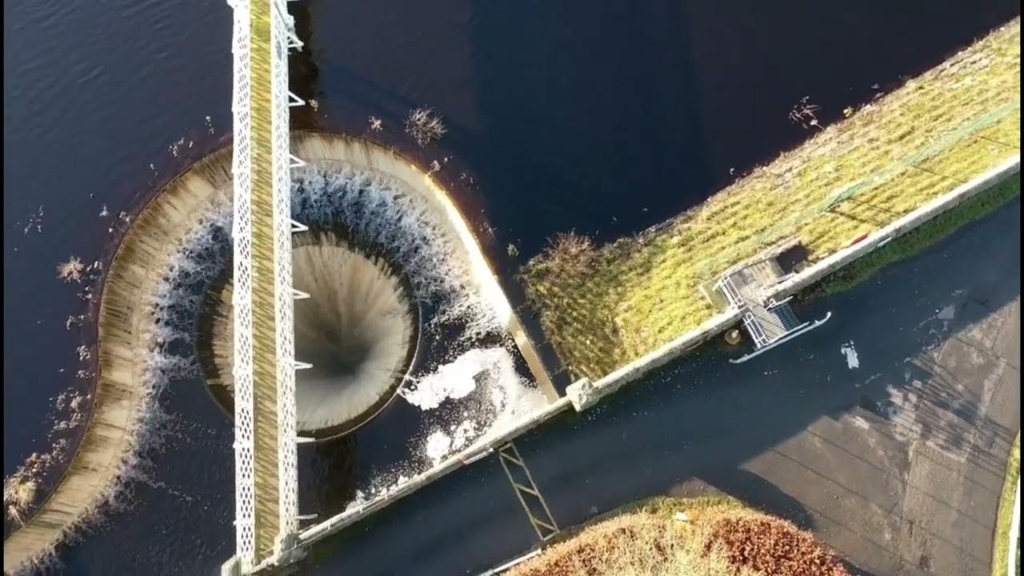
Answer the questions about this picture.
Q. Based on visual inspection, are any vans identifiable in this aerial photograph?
No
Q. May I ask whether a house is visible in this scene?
No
